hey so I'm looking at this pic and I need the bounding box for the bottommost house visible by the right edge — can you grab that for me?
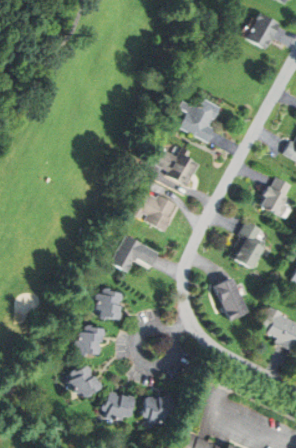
[262,309,296,349]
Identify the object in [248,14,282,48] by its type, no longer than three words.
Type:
house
